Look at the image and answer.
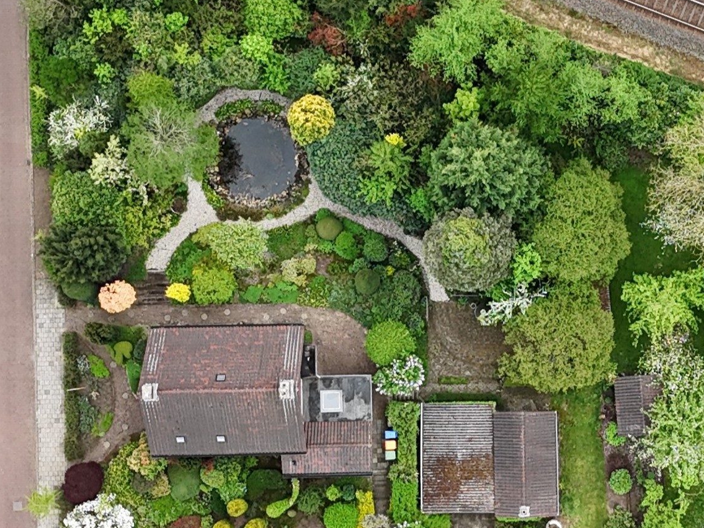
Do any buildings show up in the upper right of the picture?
No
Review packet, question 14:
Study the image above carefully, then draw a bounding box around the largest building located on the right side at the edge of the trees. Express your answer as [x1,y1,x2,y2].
[420,403,560,520]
